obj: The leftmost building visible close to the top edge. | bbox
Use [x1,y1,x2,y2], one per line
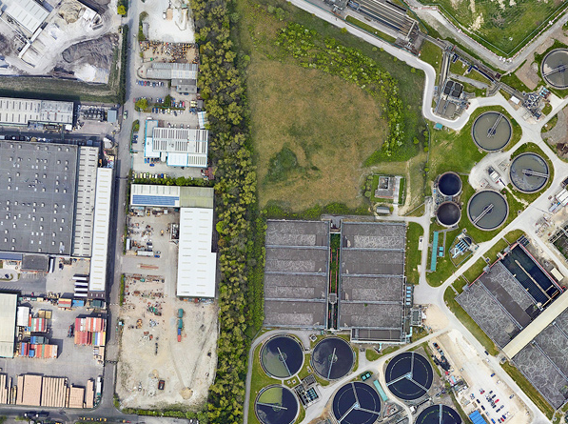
[6,0,50,36]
